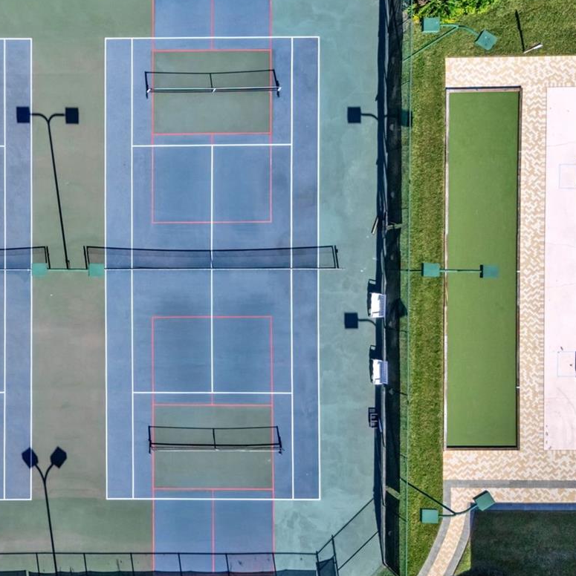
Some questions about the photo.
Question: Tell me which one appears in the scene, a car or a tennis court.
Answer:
tennis court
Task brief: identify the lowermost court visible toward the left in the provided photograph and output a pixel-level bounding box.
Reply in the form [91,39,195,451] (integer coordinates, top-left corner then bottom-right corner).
[152,316,275,576]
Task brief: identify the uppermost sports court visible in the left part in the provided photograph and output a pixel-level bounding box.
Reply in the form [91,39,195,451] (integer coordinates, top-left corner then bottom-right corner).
[152,0,272,223]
